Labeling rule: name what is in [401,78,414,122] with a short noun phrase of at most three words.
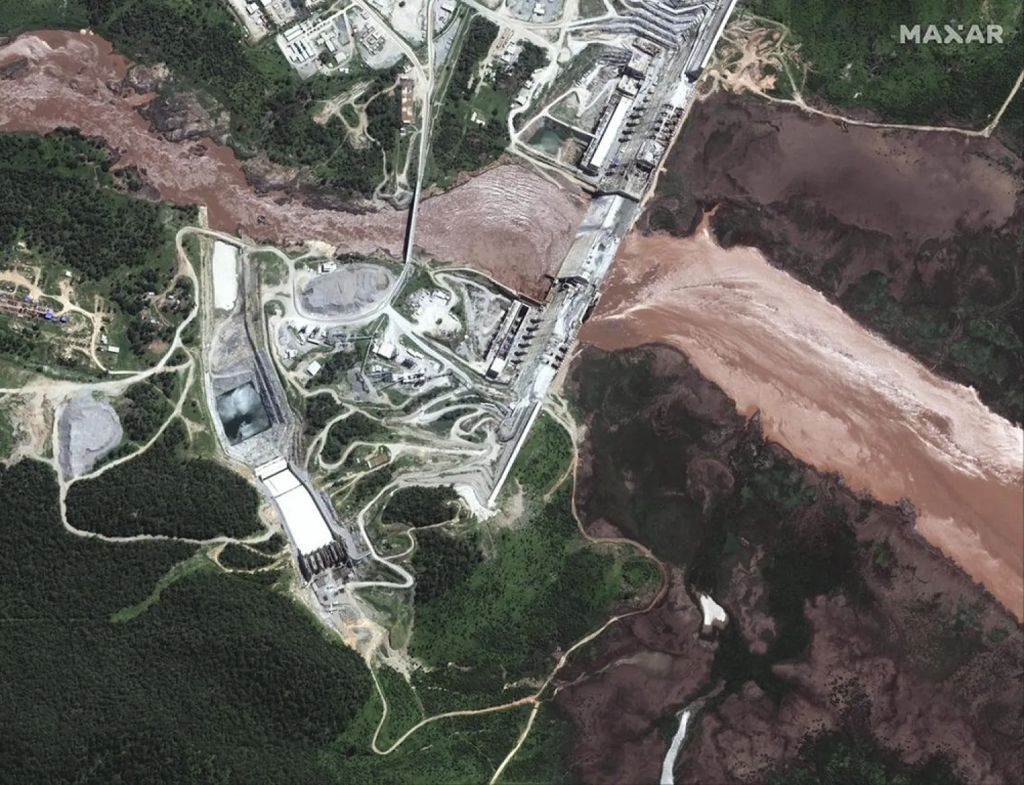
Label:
building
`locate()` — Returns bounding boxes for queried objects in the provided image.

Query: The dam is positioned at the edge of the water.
[488,0,735,506]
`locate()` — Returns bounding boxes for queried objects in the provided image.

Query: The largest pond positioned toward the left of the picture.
[216,382,271,445]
